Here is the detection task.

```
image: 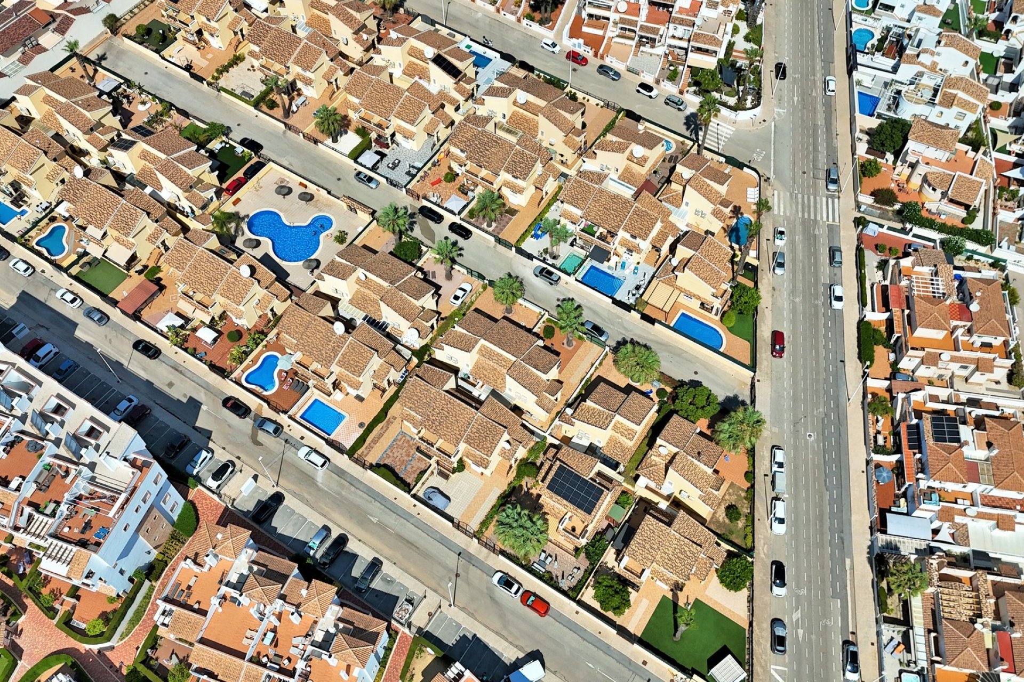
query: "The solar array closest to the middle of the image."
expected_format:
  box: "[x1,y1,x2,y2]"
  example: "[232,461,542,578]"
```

[546,464,604,515]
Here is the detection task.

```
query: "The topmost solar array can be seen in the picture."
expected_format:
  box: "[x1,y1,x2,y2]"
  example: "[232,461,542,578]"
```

[431,53,463,79]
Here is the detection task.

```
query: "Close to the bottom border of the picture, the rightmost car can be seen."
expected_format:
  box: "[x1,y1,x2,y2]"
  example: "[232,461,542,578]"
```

[841,644,861,682]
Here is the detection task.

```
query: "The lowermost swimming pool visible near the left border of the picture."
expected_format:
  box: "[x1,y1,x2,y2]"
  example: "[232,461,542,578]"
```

[33,223,69,259]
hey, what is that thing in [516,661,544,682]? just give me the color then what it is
white vehicle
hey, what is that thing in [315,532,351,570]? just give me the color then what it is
black car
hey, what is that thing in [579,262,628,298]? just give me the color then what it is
blue swimming pool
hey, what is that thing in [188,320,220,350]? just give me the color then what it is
white gazebo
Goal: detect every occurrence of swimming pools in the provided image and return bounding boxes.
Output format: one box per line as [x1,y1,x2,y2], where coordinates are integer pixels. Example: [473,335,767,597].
[242,208,336,265]
[0,198,31,227]
[33,223,69,259]
[579,262,628,298]
[853,0,872,9]
[853,27,876,53]
[726,214,756,248]
[558,249,584,272]
[249,352,279,394]
[468,48,494,69]
[663,137,675,153]
[858,91,882,117]
[672,314,725,349]
[296,396,349,439]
